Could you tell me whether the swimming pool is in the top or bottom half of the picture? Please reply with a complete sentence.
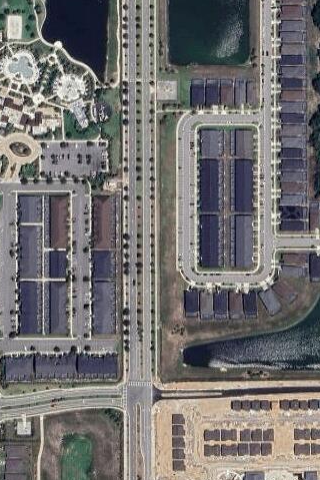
The swimming pool is in the top half of the image.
